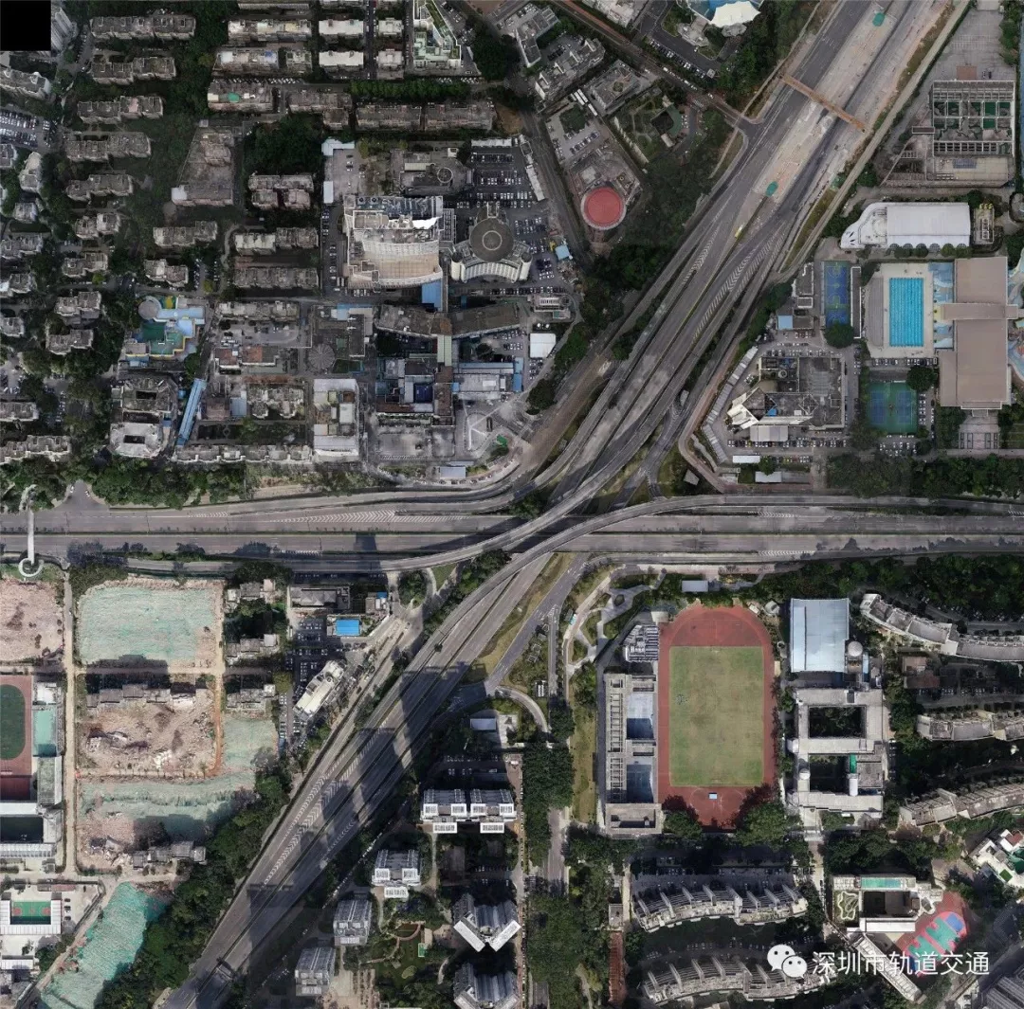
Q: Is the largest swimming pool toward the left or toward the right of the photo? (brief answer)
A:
right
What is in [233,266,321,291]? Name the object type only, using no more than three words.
building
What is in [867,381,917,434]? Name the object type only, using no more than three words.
tennis court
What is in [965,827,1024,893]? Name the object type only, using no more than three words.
house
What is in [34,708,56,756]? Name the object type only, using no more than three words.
sports court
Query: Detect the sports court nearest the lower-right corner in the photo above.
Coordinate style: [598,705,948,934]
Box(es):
[898,892,968,977]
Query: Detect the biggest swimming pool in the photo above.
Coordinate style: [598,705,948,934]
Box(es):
[864,263,934,357]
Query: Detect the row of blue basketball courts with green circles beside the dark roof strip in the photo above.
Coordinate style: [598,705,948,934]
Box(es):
[821,262,850,328]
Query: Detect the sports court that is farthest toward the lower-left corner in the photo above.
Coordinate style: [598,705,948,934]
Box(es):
[15,901,50,921]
